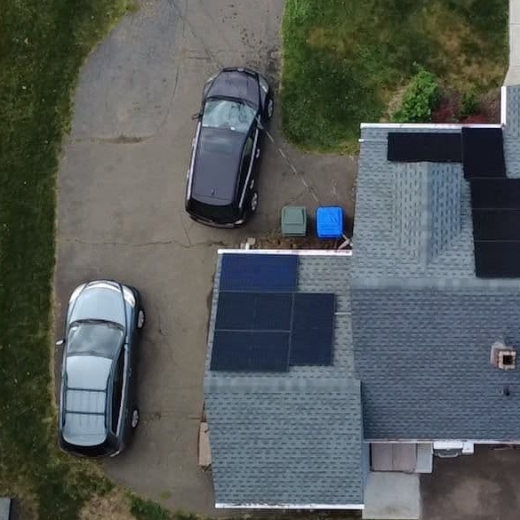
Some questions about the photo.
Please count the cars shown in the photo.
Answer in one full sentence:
My tally gives 2 cars in this view.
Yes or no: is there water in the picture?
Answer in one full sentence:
No, the picture contains no water.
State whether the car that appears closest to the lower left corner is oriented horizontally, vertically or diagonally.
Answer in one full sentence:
The car that appears closest to the lower left corner runs vertically in the image.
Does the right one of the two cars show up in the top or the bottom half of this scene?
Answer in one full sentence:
The right one of the two cars is in the top half of the image.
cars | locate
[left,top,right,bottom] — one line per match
[181,64,272,230]
[53,280,146,461]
